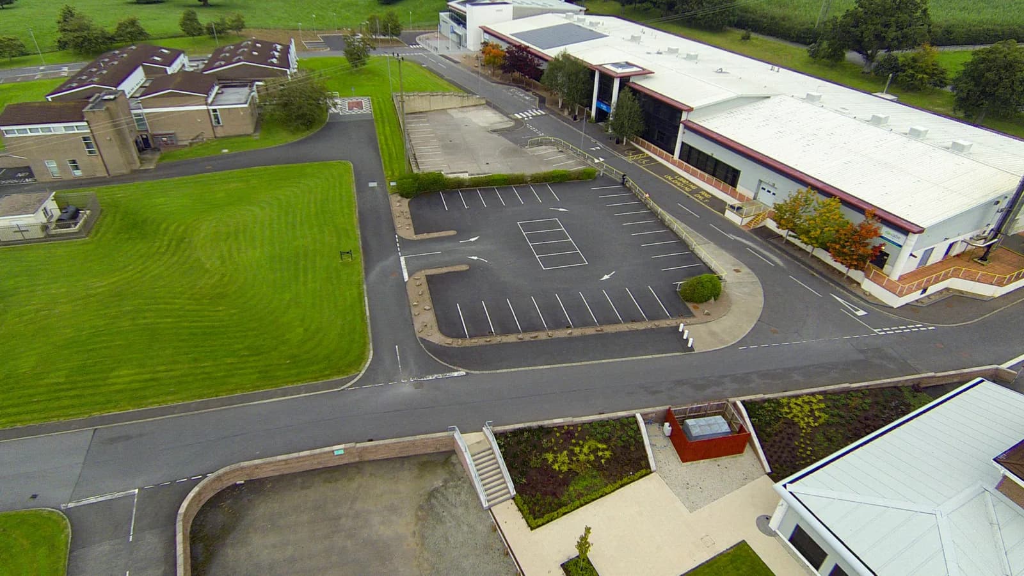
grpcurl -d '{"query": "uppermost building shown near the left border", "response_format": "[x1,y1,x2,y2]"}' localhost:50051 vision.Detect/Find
[0,39,291,179]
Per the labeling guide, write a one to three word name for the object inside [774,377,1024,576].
building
